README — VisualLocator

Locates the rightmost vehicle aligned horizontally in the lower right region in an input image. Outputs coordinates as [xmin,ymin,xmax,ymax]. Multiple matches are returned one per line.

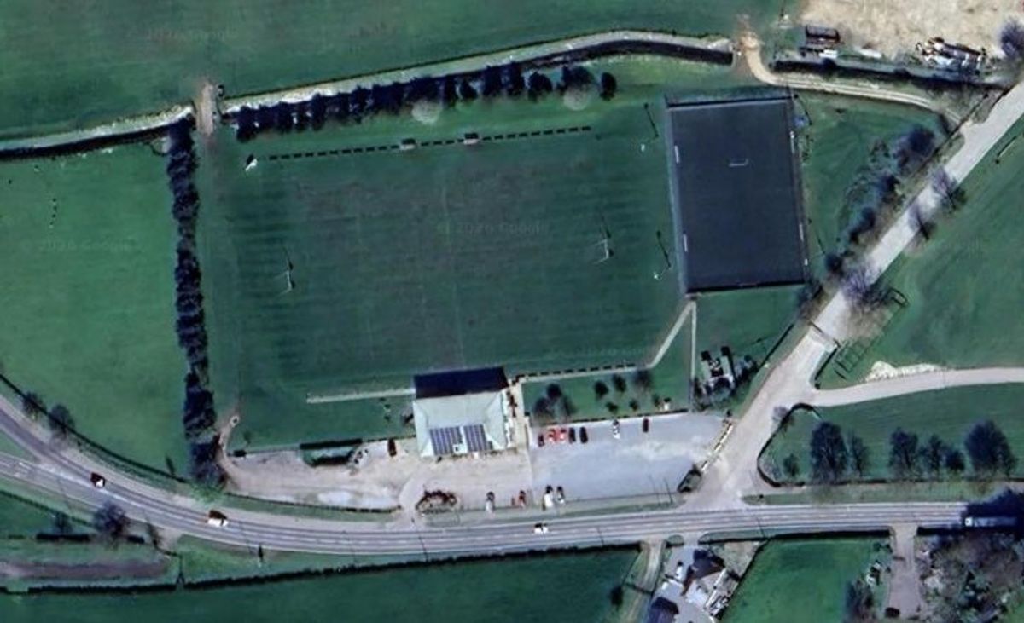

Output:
[965,513,1018,525]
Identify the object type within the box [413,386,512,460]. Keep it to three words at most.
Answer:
building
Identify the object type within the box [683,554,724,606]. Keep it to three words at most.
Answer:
house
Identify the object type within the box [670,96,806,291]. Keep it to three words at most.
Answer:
sports field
